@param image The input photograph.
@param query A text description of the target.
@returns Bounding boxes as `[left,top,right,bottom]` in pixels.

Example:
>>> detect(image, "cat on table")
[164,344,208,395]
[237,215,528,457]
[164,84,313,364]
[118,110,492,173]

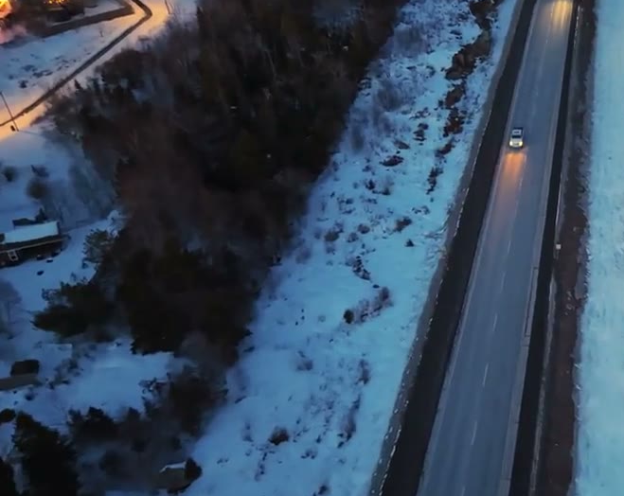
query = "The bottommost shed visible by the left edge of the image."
[0,355,46,392]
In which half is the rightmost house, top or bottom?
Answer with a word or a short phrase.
bottom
